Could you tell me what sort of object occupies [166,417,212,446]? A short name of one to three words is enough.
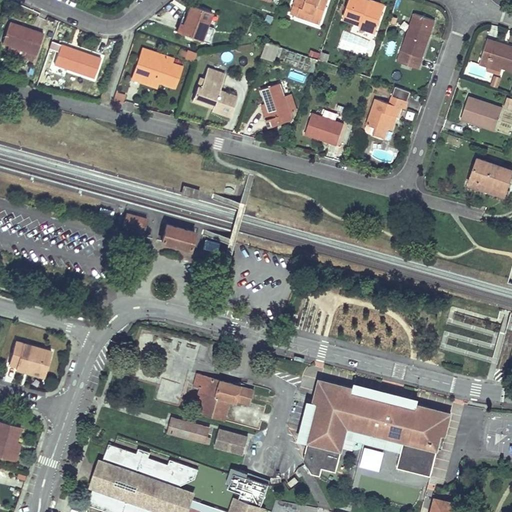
shed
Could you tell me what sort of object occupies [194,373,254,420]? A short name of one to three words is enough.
building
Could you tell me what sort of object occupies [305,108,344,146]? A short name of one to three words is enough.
house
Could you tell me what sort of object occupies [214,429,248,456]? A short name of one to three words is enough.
shed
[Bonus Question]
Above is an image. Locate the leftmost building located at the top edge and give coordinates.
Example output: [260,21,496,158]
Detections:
[3,22,44,63]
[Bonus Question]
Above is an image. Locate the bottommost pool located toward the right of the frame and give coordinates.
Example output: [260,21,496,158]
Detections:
[372,148,394,162]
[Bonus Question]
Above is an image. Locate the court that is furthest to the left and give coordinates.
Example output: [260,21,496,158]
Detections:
[194,465,230,508]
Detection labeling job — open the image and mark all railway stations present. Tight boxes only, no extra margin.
[164,225,197,262]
